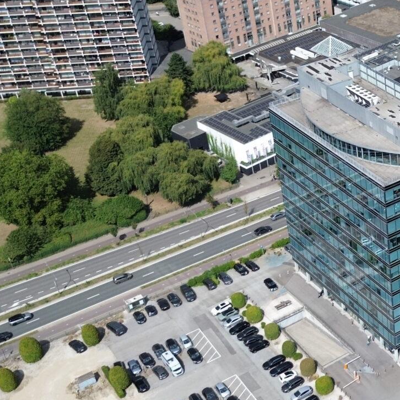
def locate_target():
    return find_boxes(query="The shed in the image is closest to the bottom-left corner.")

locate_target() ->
[69,368,102,393]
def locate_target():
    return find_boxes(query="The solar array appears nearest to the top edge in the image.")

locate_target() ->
[266,29,328,53]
